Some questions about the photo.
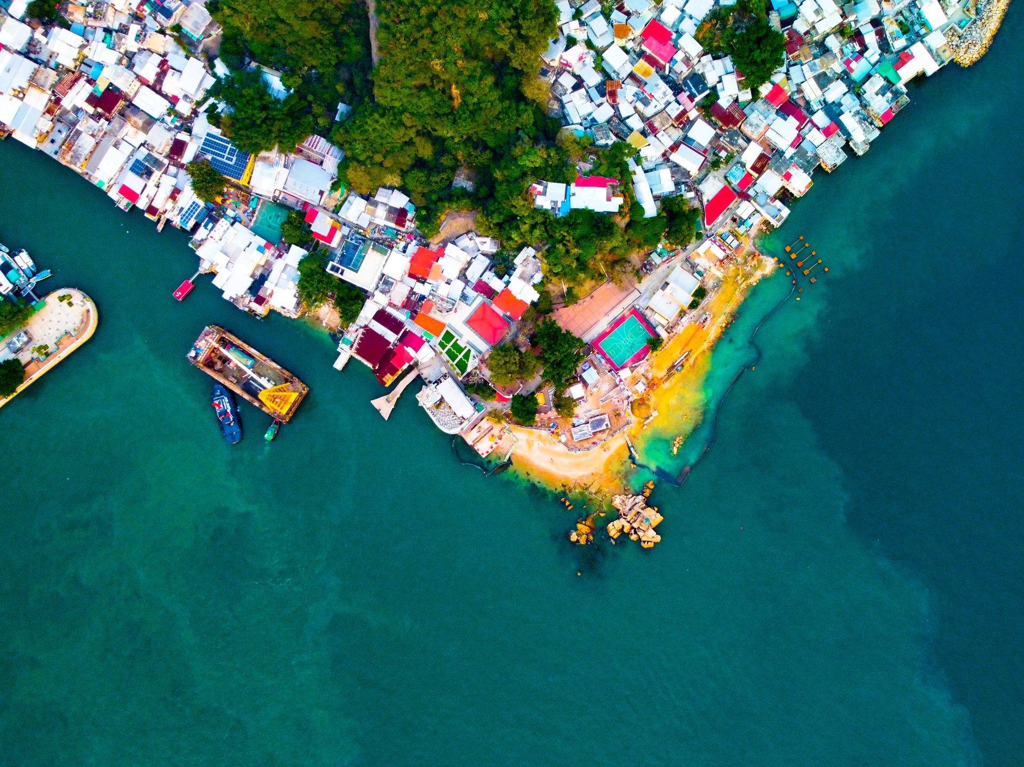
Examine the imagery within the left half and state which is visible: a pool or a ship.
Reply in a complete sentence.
Visible within the left half is a ship.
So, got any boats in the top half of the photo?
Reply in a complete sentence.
Yes, a boat can be seen in the top half of the photo.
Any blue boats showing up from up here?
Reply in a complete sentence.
Yes, the picture does show a blue boat.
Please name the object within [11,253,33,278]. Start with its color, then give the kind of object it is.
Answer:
white boat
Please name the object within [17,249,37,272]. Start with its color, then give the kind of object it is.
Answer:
white boat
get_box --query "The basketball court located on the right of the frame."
[591,308,655,372]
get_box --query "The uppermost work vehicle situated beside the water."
[749,247,762,267]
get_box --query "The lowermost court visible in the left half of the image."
[336,239,372,272]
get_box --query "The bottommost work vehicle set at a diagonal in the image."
[640,376,661,398]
